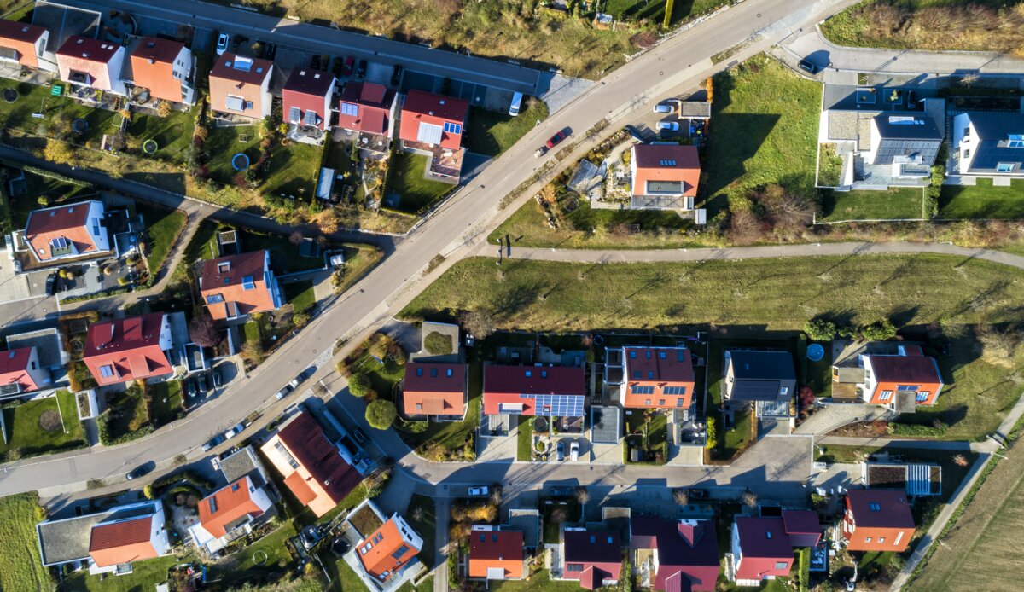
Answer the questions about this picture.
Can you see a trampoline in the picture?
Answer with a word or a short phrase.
Yes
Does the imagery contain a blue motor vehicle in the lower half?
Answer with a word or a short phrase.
Yes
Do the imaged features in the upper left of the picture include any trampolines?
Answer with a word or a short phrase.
Yes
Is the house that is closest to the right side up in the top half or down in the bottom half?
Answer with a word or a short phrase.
top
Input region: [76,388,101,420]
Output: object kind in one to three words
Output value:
building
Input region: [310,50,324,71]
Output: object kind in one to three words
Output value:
car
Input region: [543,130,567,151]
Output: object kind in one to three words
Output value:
car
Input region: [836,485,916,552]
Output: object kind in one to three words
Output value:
house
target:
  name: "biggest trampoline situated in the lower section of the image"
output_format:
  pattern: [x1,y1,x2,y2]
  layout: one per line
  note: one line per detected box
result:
[331,537,350,556]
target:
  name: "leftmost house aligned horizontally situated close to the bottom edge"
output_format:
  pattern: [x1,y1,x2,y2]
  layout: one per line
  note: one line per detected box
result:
[37,496,169,575]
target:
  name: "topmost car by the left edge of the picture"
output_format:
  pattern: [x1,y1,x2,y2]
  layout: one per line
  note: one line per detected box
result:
[45,271,60,296]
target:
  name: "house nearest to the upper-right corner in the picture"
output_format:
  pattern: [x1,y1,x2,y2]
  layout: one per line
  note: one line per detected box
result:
[944,112,1024,176]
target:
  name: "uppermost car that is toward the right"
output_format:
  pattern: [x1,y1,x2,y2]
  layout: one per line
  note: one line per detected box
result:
[795,58,818,75]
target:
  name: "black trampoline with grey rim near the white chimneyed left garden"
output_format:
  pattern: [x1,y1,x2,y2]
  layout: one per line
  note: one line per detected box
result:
[2,87,19,103]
